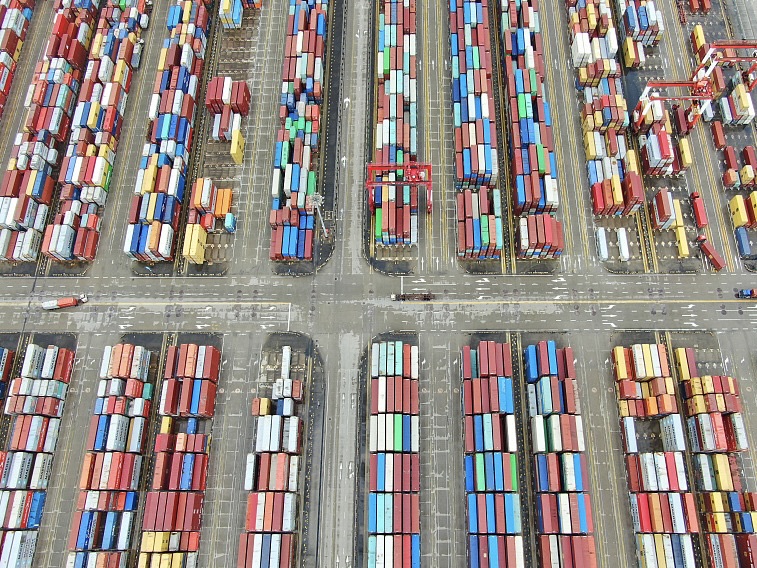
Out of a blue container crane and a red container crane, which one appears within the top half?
red container crane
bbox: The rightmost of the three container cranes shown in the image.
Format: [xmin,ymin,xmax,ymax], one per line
[690,37,757,93]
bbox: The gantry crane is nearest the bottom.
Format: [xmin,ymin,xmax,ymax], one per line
[368,162,432,214]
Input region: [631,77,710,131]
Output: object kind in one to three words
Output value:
container crane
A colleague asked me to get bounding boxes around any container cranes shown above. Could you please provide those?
[631,77,710,131]
[368,162,432,214]
[690,37,757,93]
